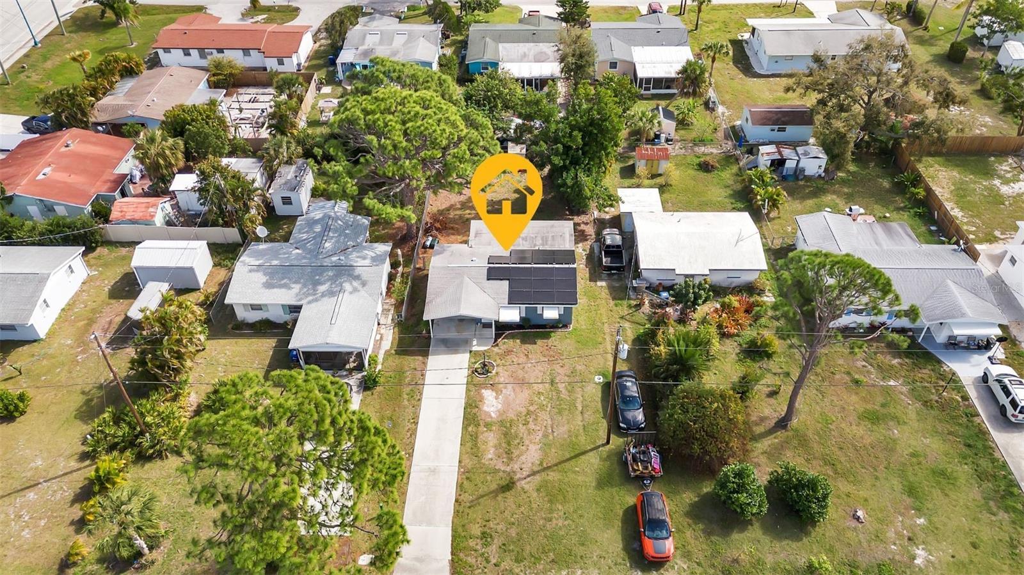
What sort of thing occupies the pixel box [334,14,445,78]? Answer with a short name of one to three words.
house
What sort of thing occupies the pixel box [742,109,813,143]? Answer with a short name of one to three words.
building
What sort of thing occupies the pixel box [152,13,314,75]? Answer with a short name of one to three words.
house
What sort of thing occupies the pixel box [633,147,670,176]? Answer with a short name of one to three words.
shed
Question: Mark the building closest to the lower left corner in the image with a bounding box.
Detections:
[0,247,97,343]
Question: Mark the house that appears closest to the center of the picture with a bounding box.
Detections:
[422,220,580,337]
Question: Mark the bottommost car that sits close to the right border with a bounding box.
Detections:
[979,367,1024,429]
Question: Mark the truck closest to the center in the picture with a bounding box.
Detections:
[599,225,629,271]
